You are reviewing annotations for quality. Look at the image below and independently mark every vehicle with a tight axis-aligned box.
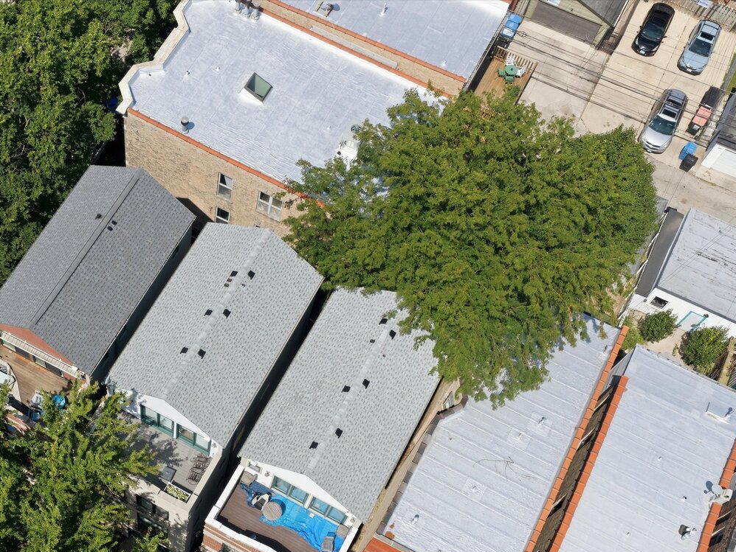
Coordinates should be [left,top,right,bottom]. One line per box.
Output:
[646,76,701,149]
[682,6,731,70]
[634,0,681,53]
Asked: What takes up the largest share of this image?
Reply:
buildings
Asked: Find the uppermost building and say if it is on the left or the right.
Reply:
right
